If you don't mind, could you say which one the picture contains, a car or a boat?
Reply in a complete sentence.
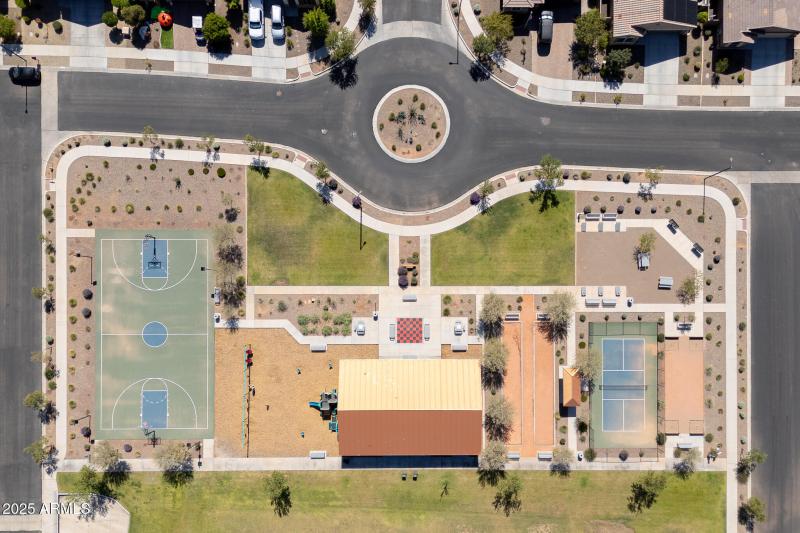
Looking from above, you can make out a car.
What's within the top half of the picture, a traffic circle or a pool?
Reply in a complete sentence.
You can see a traffic circle within the top half of the picture.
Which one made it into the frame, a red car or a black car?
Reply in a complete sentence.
Visible in the photo is a black car.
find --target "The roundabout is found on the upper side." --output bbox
[373,84,450,163]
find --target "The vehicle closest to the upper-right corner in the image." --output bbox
[539,10,556,45]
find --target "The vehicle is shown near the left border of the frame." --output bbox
[9,65,43,84]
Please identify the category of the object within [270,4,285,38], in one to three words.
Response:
car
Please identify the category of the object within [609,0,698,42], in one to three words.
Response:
house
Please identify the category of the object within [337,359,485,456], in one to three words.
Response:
building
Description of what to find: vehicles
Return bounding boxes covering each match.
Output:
[9,65,43,84]
[539,10,556,45]
[270,4,285,38]
[247,0,265,39]
[191,16,206,38]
